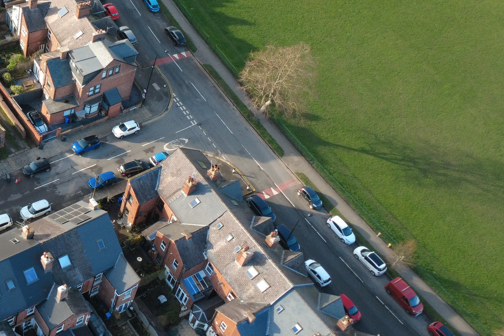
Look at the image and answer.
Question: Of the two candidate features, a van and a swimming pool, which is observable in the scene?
van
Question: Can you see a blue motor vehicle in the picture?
Yes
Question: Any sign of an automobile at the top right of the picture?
No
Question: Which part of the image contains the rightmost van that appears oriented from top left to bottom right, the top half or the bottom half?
bottom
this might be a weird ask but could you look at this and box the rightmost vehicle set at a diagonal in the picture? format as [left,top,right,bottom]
[382,274,424,318]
